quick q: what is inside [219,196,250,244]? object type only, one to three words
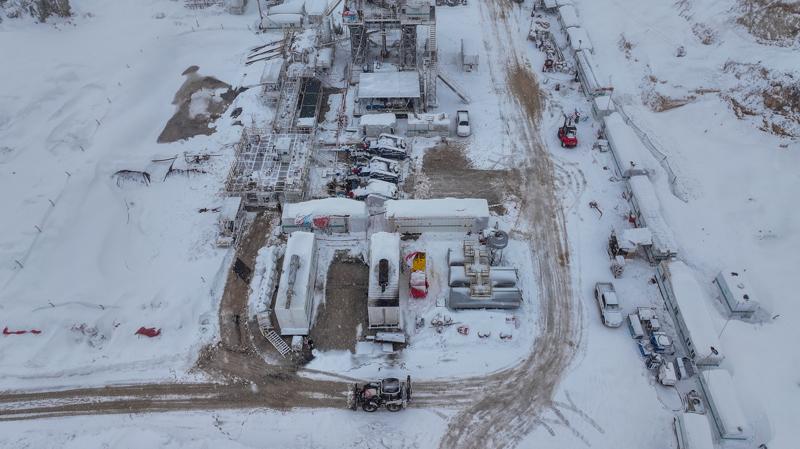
shed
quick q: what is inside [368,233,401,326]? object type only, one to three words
shipping container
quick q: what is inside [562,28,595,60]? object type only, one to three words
trailer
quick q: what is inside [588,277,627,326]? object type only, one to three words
truck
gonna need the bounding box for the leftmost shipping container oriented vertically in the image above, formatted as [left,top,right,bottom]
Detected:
[274,232,319,334]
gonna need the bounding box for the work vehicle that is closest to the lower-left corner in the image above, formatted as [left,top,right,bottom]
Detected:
[343,372,410,409]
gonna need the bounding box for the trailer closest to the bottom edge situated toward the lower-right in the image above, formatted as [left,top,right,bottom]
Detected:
[659,408,718,449]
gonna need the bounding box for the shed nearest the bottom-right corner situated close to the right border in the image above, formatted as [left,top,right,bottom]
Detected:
[709,269,761,322]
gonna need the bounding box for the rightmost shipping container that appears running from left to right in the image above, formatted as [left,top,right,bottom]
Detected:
[390,198,494,233]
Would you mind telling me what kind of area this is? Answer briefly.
industrial area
